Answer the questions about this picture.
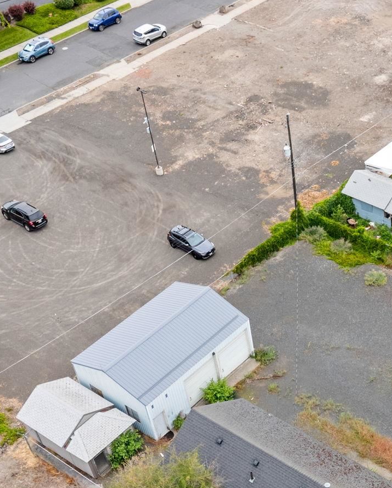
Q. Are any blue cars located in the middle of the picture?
No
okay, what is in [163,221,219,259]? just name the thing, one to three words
car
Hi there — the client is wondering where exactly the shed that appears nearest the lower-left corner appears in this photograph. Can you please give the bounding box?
[16,377,139,484]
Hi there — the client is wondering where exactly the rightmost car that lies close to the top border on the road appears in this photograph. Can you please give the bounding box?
[130,23,169,45]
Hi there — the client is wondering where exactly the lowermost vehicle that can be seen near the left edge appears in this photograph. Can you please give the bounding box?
[0,200,49,231]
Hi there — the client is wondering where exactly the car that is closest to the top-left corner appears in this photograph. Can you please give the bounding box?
[13,35,56,63]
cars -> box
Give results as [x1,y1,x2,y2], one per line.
[13,35,56,63]
[0,133,15,153]
[163,221,219,259]
[83,5,123,31]
[0,200,49,231]
[130,23,169,45]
